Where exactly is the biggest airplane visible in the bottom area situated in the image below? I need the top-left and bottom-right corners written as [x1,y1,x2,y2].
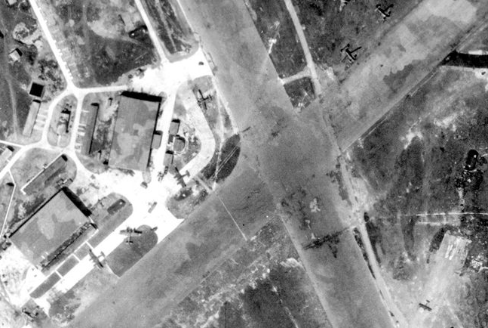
[306,231,339,255]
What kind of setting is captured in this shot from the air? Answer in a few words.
airport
